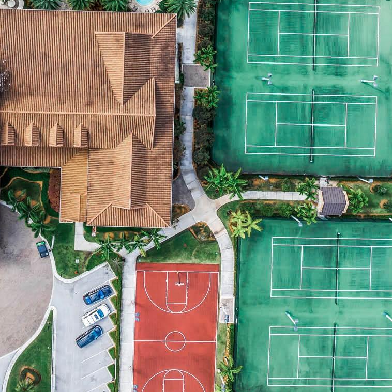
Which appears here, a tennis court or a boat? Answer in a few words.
tennis court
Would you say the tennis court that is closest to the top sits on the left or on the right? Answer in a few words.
right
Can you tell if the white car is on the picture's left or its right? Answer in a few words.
left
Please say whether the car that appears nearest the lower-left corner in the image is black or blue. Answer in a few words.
blue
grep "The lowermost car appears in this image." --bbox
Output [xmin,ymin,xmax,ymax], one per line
[74,326,103,350]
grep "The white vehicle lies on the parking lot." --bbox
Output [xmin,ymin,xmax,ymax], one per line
[81,305,111,327]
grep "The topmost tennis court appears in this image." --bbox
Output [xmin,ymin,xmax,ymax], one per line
[215,0,392,81]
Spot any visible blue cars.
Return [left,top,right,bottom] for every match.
[74,326,103,350]
[84,285,112,305]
